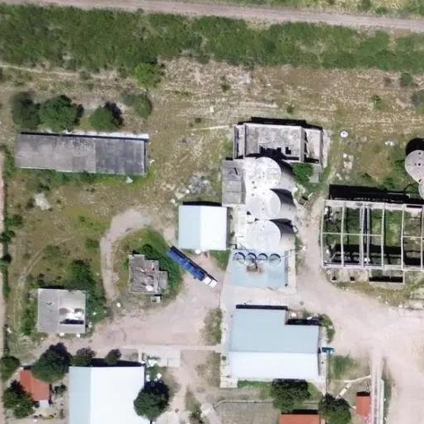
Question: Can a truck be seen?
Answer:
Yes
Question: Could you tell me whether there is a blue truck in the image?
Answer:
Yes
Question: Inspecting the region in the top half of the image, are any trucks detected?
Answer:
No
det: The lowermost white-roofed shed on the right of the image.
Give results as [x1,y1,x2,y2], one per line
[227,326,326,382]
